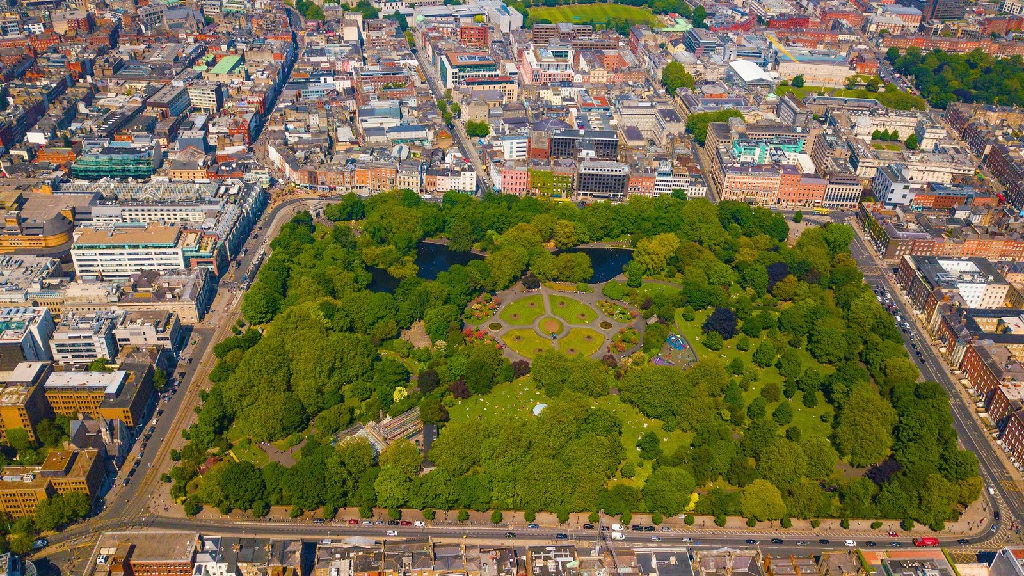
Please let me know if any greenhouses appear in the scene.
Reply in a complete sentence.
Yes, there's a greenhouse down there.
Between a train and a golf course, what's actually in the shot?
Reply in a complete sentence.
I can see a train in this picture.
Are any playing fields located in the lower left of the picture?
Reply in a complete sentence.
No, no playing field can be made out in the lower left of the picture.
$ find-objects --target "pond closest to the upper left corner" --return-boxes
[371,241,487,292]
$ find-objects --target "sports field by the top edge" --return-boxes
[531,3,653,31]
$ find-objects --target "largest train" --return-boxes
[240,248,266,291]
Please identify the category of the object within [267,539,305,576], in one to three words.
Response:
house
